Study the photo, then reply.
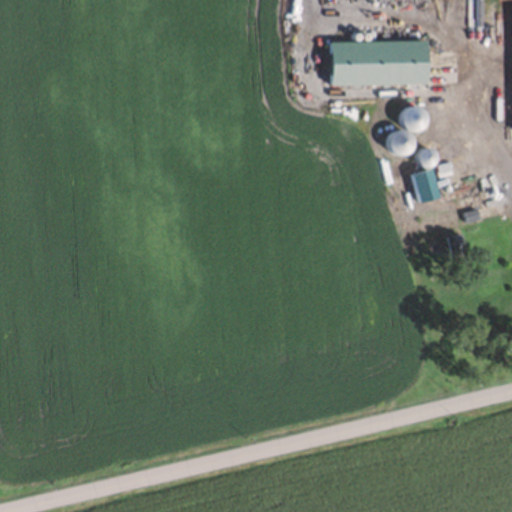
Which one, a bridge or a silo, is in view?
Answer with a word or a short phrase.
silo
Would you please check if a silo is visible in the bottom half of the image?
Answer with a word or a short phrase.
No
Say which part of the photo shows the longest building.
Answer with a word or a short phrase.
top right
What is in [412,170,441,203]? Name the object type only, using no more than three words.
shed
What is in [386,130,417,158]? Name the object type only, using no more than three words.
silo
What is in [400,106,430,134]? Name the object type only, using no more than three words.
silo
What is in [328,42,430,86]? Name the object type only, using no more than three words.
building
